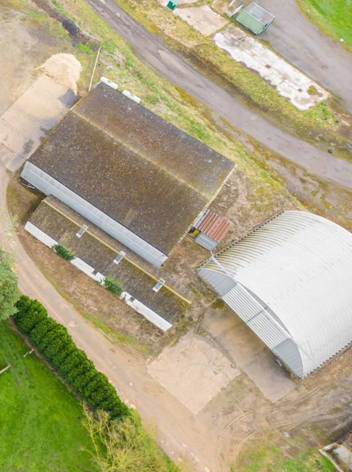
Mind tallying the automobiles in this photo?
0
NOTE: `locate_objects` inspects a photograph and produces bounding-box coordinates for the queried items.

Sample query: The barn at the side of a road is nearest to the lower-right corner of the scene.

[197,210,352,379]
